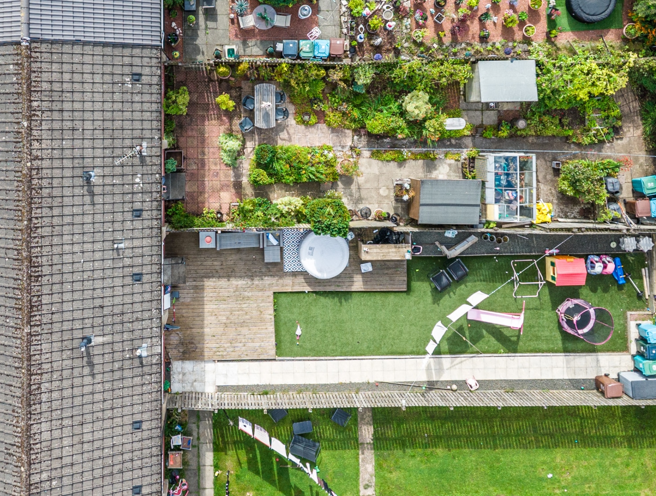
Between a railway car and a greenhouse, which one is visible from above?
greenhouse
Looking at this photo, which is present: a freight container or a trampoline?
trampoline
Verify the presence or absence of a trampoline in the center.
No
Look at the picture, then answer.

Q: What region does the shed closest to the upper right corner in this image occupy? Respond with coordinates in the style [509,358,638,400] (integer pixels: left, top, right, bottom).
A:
[465,60,539,103]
